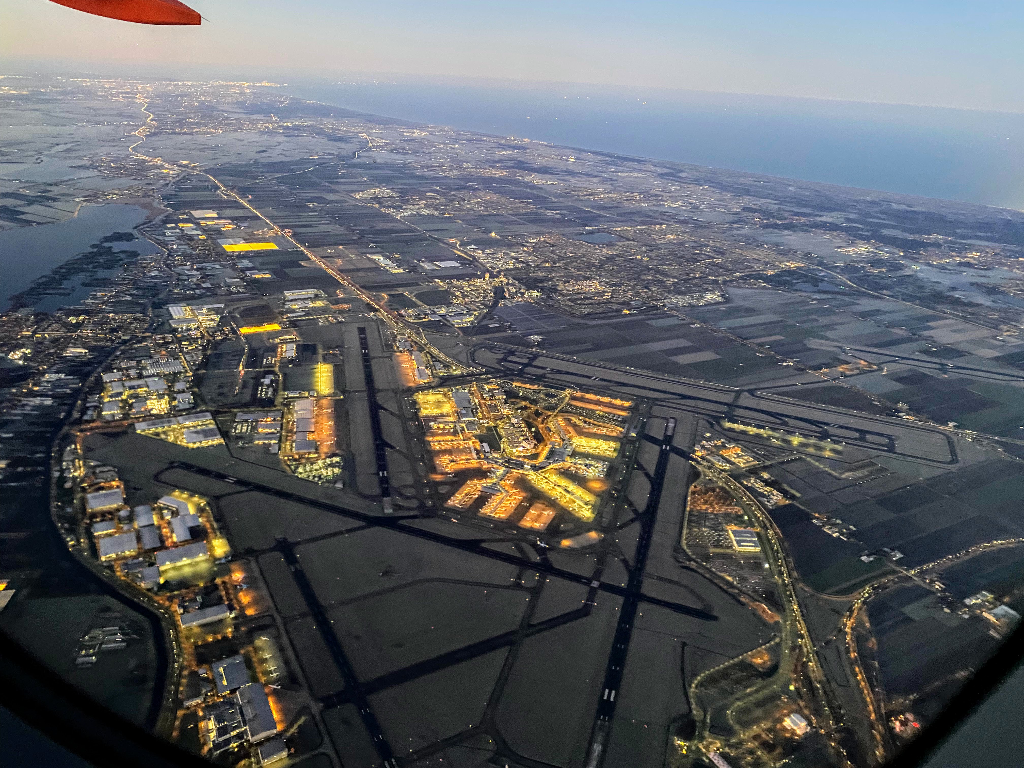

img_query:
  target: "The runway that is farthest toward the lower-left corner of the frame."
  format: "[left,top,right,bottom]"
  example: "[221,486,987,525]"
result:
[276,536,401,768]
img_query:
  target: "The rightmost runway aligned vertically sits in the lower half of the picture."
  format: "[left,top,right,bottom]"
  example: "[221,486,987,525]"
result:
[585,419,677,768]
